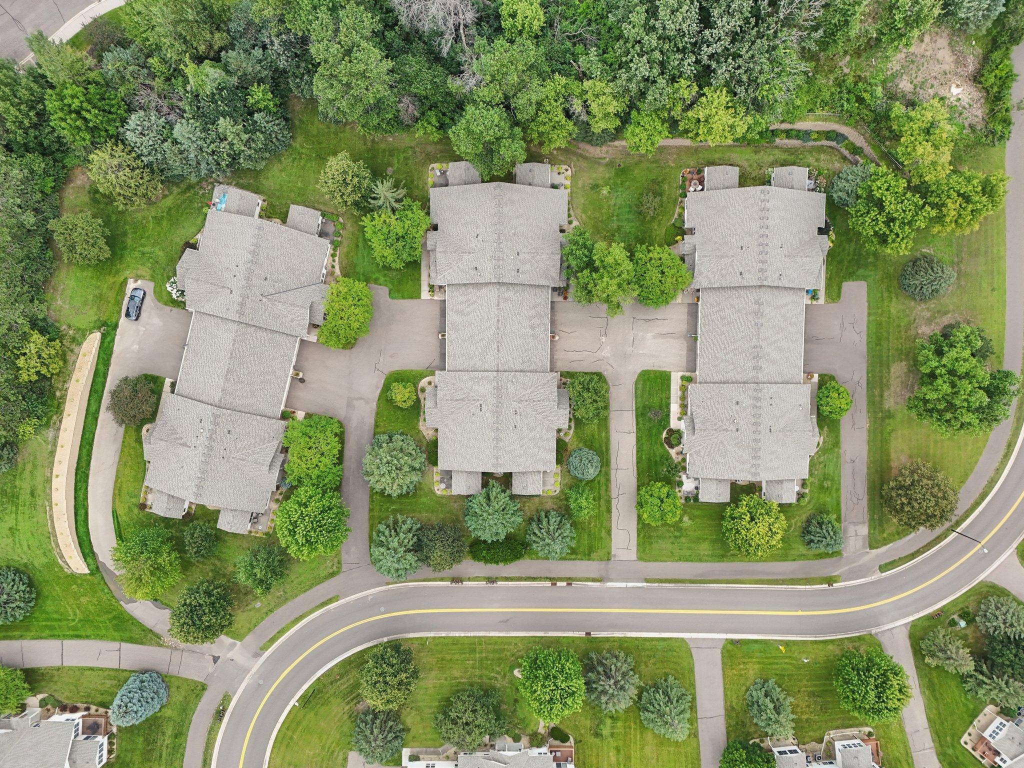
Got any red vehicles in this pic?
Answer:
No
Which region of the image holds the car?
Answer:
left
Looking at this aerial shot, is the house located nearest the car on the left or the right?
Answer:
left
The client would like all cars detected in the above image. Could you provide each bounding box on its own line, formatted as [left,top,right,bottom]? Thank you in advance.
[121,285,145,322]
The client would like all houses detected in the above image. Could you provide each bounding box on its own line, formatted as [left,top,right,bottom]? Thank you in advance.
[426,162,569,495]
[770,737,871,768]
[143,188,332,534]
[980,714,1024,768]
[0,708,108,768]
[678,166,827,504]
[405,740,573,768]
